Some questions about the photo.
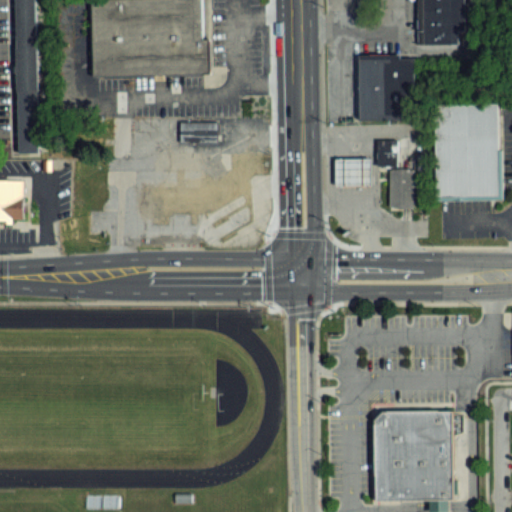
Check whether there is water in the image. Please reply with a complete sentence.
No, water can't be seen anywhere here.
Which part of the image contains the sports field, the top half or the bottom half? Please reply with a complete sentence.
The sports field is in the bottom half of the image.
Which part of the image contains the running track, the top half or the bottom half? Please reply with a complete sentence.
The running track sits in the bottom half of the picture.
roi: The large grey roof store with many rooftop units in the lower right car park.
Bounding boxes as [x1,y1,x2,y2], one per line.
[376,412,455,502]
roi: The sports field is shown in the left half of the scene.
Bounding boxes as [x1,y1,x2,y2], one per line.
[0,328,264,470]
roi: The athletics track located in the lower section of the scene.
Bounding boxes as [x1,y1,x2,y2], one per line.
[0,310,282,488]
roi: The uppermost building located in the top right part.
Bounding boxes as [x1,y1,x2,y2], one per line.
[418,0,462,45]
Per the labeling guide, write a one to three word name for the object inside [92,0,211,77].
building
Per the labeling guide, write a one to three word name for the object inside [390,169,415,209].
building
